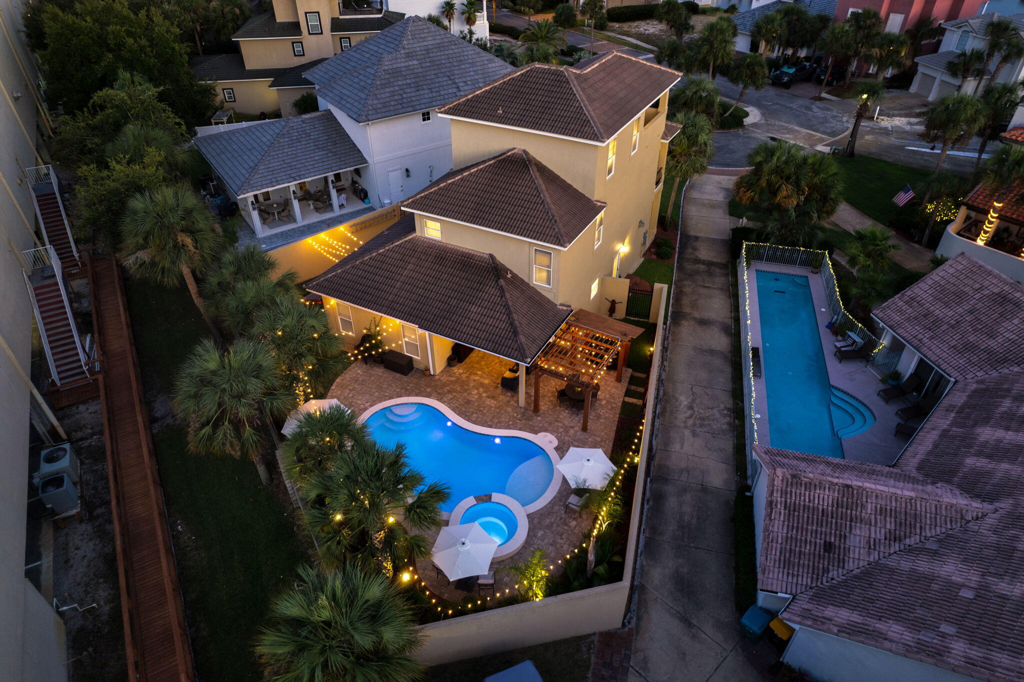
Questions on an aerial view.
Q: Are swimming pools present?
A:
Yes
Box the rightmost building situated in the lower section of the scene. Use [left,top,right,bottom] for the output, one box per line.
[732,249,1024,682]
